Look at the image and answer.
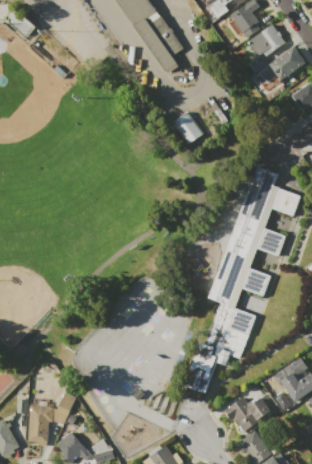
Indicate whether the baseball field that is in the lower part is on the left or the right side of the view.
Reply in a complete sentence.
The baseball field that is in the lower part is on the left side of the image.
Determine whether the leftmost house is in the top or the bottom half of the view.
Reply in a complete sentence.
The leftmost house sits in the bottom half of the picture.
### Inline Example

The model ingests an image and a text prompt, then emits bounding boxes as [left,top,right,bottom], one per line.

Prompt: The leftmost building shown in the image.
[0,420,21,456]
